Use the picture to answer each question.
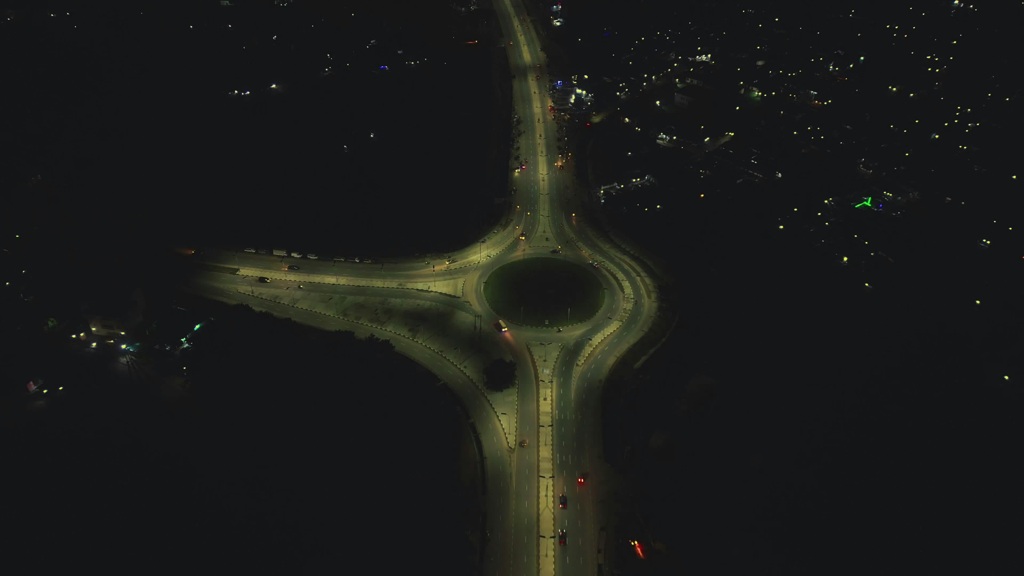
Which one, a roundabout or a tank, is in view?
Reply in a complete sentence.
This aerial view contains a roundabout.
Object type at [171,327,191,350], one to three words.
house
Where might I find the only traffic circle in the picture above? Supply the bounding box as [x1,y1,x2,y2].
[459,245,626,343]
